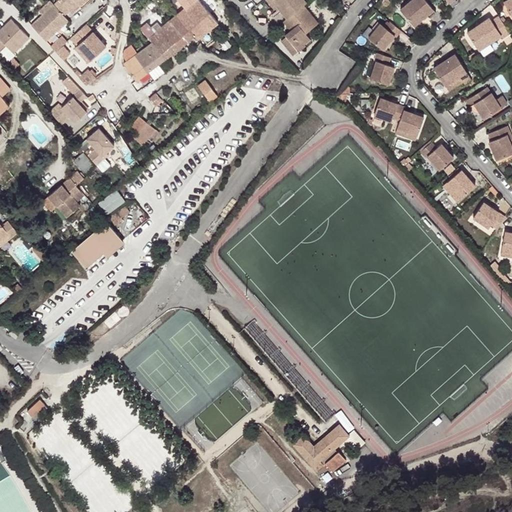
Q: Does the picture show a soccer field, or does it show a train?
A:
soccer field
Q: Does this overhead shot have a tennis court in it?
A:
Yes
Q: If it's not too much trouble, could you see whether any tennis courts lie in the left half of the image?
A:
Yes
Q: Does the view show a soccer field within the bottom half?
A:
Yes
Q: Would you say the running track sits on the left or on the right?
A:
right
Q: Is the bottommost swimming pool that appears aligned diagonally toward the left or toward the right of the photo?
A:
left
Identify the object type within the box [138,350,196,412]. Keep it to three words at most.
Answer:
tennis court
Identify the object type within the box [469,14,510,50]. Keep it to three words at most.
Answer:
house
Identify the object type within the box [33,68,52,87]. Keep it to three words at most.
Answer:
swimming pool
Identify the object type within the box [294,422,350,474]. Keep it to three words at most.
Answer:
building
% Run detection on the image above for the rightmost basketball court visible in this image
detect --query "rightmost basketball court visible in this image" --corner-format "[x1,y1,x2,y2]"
[230,442,299,512]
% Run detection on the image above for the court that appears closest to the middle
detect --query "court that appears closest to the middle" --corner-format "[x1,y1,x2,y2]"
[170,322,229,383]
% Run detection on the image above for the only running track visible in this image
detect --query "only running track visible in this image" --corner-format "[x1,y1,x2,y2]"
[210,124,512,464]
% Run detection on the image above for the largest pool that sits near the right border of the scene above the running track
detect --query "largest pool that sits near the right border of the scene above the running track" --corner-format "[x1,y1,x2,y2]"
[496,74,511,94]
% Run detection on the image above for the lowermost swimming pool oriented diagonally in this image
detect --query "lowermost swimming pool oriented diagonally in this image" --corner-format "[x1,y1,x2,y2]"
[13,245,38,270]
